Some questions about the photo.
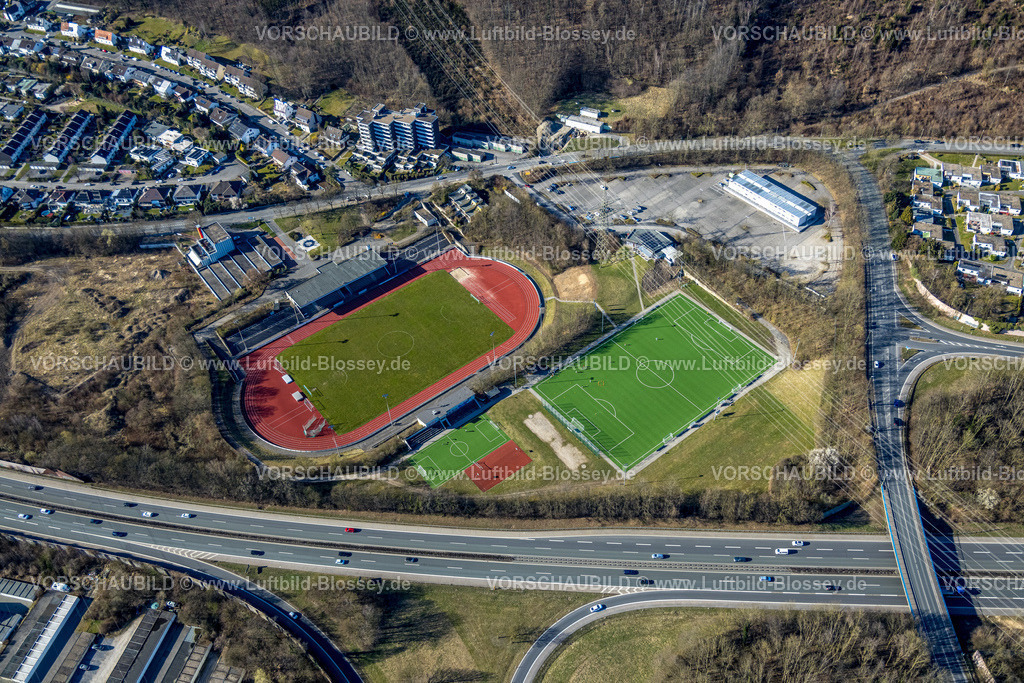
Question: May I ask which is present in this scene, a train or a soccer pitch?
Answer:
soccer pitch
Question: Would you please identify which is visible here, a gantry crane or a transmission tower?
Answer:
transmission tower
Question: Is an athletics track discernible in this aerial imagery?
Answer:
Yes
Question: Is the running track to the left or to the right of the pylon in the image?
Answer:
left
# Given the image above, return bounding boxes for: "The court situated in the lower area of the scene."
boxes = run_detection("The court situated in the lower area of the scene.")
[465,442,532,491]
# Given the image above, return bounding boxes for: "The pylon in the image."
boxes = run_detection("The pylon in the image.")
[590,195,630,271]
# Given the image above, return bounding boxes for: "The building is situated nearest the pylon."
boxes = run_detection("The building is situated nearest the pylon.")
[626,230,683,263]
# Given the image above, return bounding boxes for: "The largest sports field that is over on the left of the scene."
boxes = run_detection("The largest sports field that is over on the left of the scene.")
[273,266,516,434]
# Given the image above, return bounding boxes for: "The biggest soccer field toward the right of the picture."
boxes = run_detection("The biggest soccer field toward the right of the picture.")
[522,287,790,483]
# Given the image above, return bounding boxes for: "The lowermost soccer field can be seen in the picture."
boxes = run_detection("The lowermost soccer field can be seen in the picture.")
[411,416,509,487]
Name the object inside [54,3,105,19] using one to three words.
shed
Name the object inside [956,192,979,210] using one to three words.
house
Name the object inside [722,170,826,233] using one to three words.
building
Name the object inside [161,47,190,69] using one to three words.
building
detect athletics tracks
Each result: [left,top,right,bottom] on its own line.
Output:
[235,247,540,450]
